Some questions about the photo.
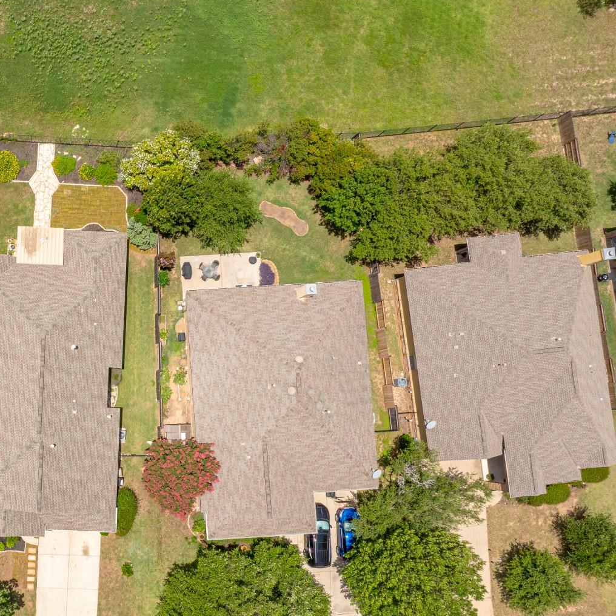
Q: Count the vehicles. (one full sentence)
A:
The number of vehicles here is 2.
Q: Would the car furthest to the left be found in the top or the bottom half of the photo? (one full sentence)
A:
It is in the bottom half that the car furthest to the left appears.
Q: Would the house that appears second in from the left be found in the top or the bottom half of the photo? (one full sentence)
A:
The bottom half of the photo is where the house that appears second in from the left is.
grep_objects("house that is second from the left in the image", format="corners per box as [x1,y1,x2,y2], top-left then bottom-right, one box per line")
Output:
[184,278,379,540]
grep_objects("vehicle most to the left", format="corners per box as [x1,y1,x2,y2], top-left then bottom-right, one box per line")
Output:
[304,506,333,564]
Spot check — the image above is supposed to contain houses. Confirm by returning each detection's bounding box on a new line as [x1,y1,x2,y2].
[0,229,128,538]
[184,278,379,540]
[393,231,616,498]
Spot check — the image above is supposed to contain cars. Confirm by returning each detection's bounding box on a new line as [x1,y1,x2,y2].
[339,506,367,562]
[304,506,333,564]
